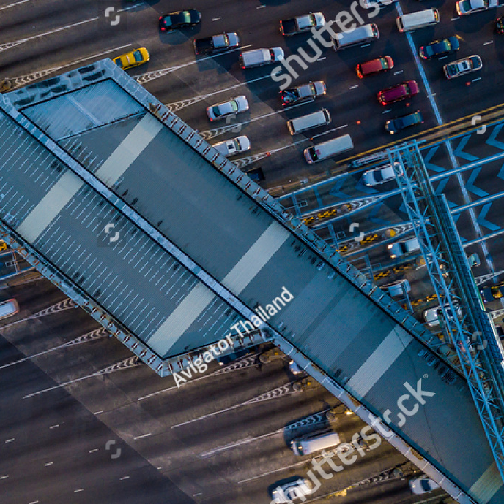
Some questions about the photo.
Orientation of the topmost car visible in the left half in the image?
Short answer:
from side to side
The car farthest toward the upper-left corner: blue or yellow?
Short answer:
yellow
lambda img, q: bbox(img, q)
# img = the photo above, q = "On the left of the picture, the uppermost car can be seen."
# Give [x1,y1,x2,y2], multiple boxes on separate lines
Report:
[160,10,199,30]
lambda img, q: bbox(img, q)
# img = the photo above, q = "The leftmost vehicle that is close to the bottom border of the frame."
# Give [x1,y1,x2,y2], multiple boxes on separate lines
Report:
[271,477,313,501]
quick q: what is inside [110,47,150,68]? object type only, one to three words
car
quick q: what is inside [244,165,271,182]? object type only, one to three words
vehicle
